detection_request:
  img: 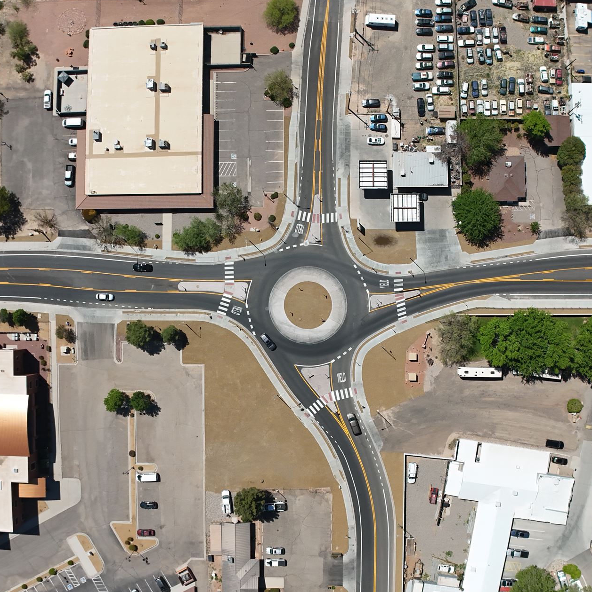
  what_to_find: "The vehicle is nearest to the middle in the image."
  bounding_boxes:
[262,334,275,349]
